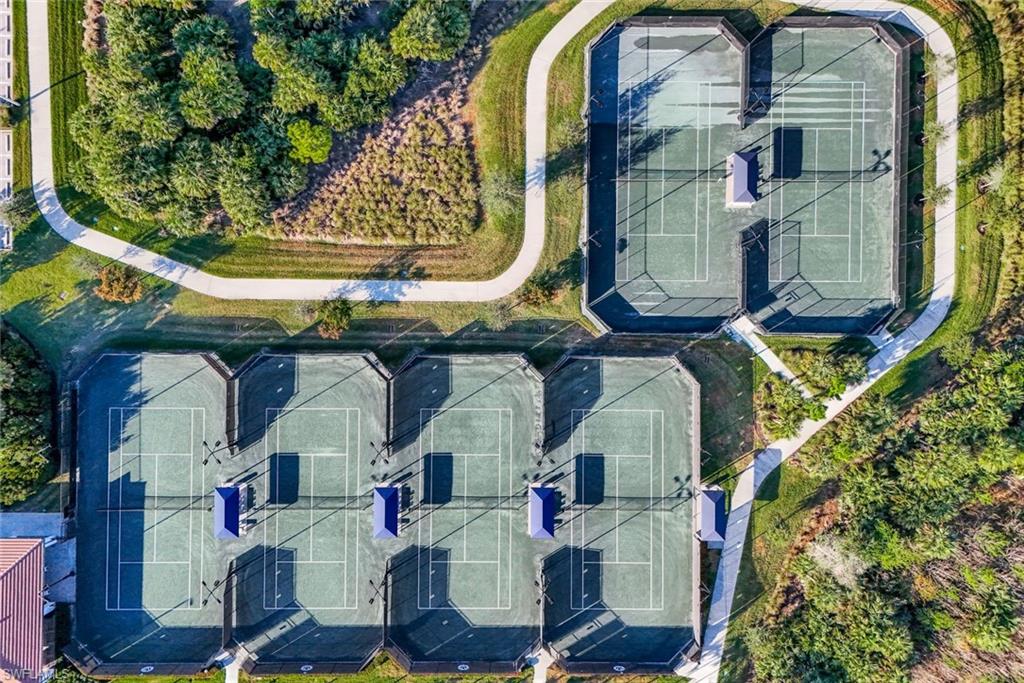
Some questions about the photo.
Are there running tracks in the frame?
No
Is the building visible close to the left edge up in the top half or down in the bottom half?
bottom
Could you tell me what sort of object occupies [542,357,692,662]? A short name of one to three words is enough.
tennis court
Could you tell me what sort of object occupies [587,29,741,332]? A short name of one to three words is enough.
tennis court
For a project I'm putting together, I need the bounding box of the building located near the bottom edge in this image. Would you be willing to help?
[0,533,62,683]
